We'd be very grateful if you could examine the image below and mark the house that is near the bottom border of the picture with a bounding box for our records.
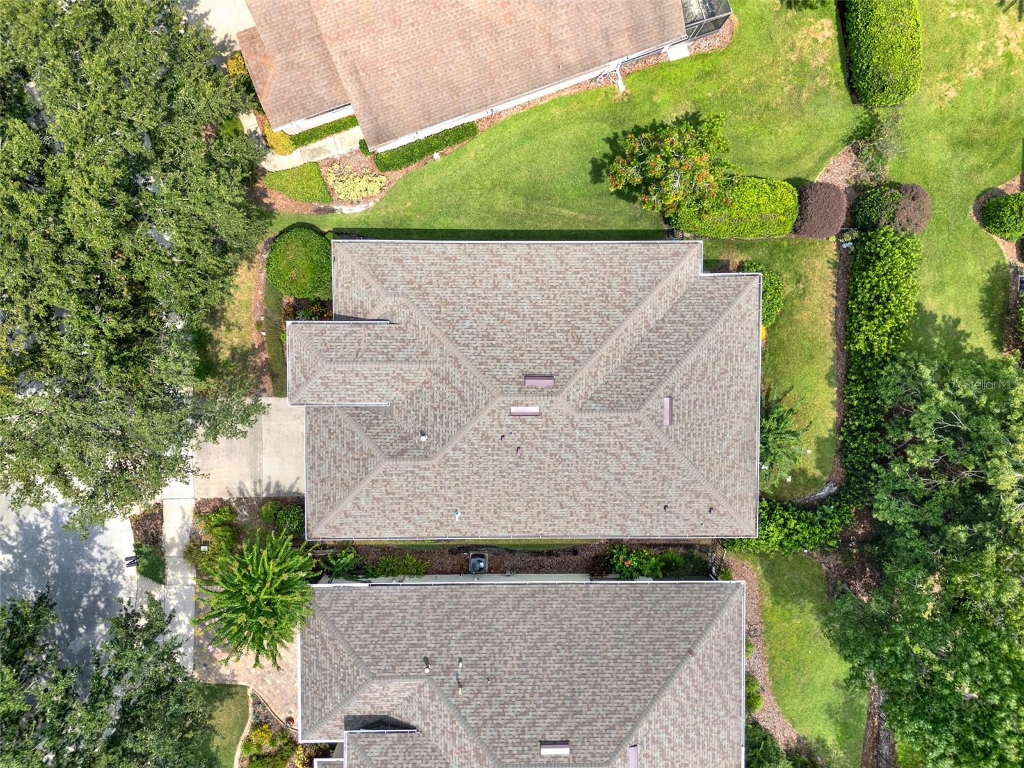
[299,574,744,768]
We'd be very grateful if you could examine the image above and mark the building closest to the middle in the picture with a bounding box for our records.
[287,241,760,539]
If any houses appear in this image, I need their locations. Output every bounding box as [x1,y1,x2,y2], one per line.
[299,574,744,768]
[237,0,688,155]
[287,241,760,539]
